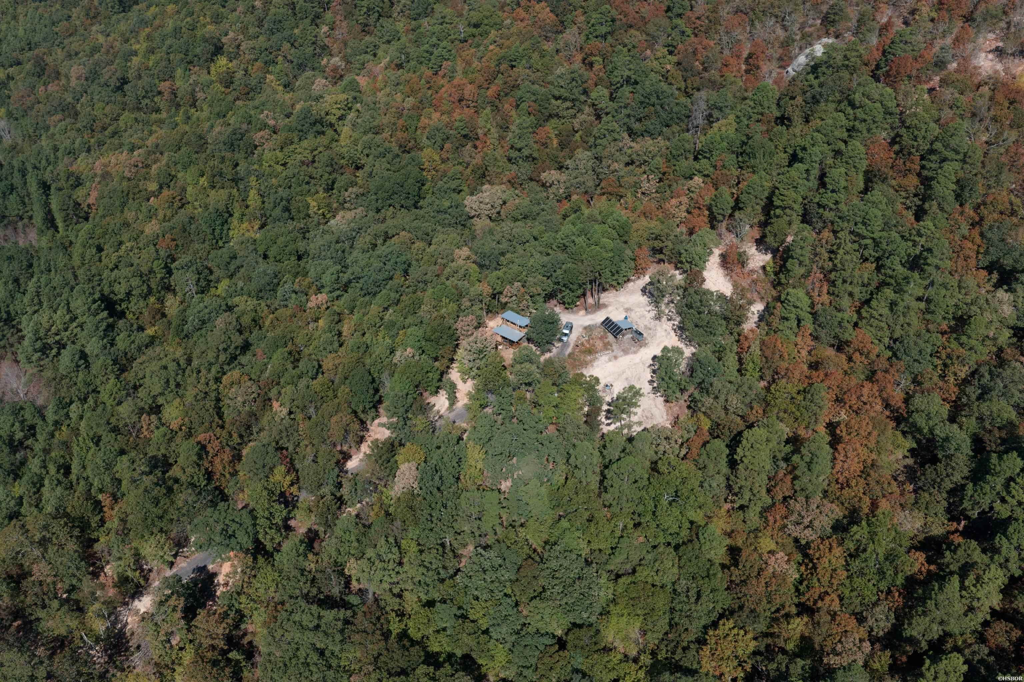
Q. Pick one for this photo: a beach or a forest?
forest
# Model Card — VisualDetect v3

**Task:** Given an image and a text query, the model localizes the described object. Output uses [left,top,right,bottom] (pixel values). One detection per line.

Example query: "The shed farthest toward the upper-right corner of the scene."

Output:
[601,317,635,342]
